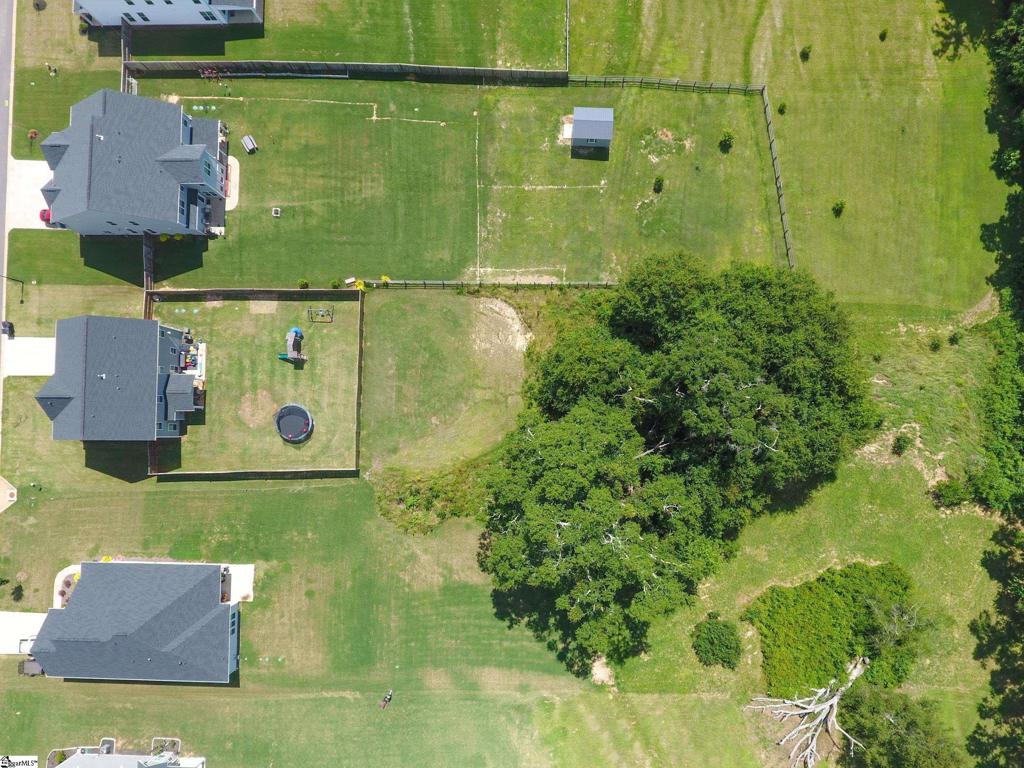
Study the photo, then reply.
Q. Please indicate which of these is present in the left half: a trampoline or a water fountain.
trampoline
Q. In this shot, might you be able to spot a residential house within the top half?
Yes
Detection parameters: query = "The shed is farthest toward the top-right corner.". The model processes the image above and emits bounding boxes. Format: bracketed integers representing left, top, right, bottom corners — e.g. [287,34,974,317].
[571,109,615,147]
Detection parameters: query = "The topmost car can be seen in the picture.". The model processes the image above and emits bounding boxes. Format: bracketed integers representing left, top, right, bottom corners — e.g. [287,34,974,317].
[40,209,55,225]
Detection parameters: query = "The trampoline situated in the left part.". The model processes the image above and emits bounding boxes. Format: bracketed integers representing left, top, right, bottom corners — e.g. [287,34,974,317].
[272,403,315,440]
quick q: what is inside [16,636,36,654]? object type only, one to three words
vehicle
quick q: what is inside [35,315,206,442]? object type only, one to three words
house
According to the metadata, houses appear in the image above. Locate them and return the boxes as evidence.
[69,0,267,25]
[30,559,238,684]
[40,89,228,236]
[35,315,206,442]
[59,752,204,768]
